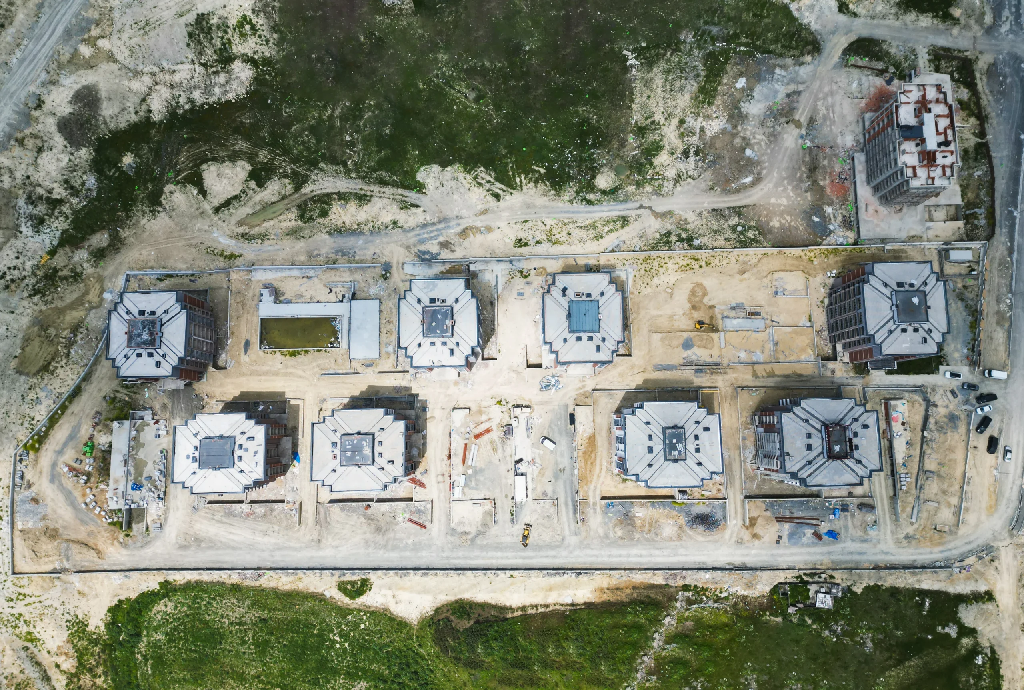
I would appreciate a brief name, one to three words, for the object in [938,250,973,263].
shed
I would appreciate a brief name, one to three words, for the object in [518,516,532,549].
work vehicle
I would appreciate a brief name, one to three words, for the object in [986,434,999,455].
vehicle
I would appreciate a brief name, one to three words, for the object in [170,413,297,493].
building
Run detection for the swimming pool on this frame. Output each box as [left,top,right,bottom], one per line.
[258,315,344,351]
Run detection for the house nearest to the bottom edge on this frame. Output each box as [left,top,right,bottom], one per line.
[776,581,842,613]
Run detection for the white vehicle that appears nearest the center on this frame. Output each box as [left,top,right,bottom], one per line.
[539,435,558,451]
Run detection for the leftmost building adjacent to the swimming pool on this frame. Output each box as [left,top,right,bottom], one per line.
[104,291,218,389]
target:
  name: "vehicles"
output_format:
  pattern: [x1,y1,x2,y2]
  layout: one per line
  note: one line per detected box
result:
[986,434,999,455]
[974,404,994,415]
[942,370,963,379]
[974,415,993,435]
[691,321,714,330]
[982,369,1012,379]
[960,381,980,392]
[974,392,1000,404]
[518,516,532,549]
[539,435,558,451]
[1001,444,1013,463]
